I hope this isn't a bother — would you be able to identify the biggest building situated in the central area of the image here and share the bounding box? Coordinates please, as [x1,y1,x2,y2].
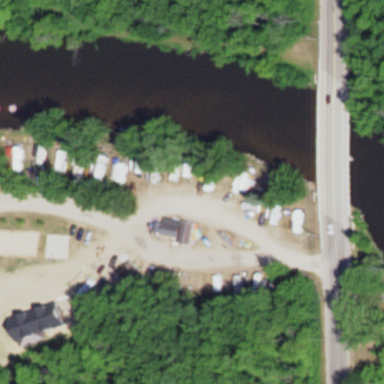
[156,216,198,244]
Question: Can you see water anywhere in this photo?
Yes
